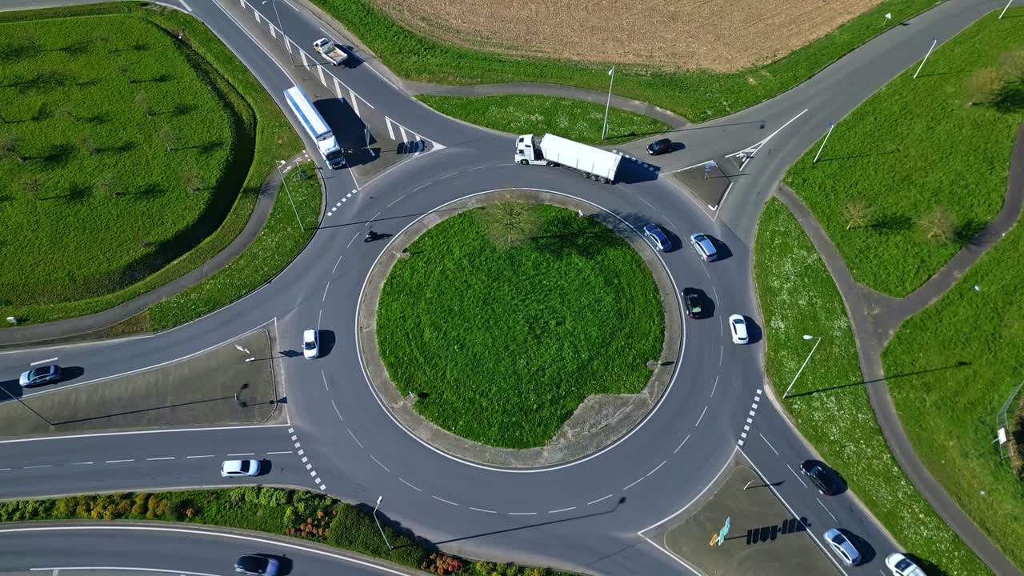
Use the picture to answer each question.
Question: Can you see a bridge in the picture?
No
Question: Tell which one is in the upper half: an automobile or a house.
automobile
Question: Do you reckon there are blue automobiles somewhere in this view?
Yes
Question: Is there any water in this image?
No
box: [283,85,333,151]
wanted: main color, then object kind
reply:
white trailer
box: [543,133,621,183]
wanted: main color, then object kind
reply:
white trailer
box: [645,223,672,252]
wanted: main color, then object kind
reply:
blue car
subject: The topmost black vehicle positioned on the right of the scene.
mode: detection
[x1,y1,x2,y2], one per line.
[645,136,674,155]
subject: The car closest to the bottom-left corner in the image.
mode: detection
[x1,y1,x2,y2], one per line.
[20,365,62,388]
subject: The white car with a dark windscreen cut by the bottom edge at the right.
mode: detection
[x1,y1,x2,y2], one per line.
[884,550,922,576]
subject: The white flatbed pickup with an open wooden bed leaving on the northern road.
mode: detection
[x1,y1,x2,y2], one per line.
[315,36,346,62]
